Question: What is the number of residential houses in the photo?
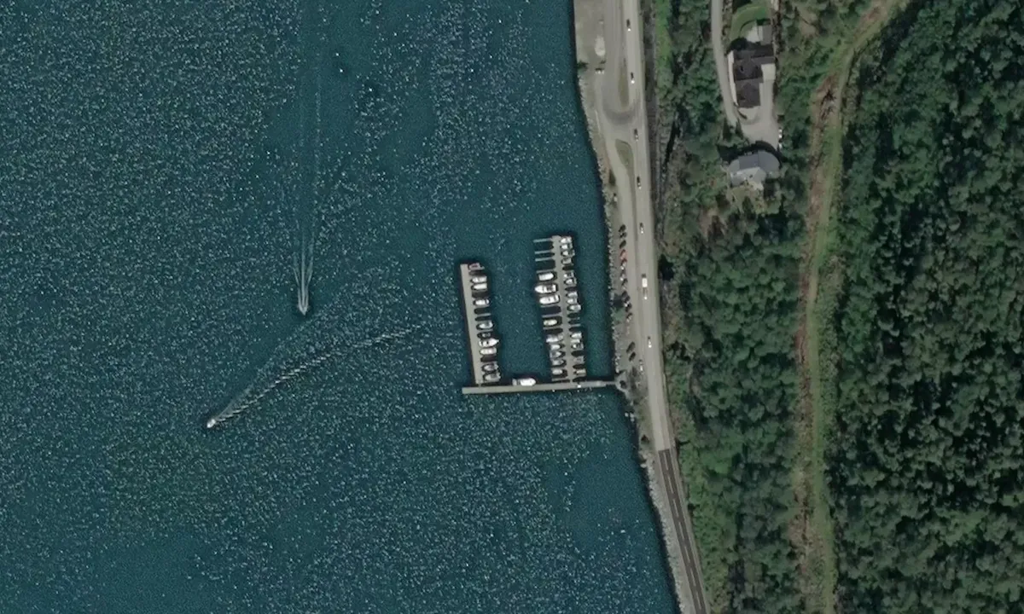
2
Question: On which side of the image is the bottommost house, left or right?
right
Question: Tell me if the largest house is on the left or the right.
right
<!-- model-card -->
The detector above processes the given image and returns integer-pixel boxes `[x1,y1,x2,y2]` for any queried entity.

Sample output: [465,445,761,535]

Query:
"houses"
[735,42,776,107]
[729,149,780,186]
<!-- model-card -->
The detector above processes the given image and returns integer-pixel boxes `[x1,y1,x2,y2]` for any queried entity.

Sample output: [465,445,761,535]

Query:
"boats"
[480,347,497,355]
[551,369,563,375]
[484,363,499,371]
[538,273,554,281]
[570,304,582,311]
[485,373,501,381]
[550,359,564,366]
[564,272,576,278]
[562,250,576,256]
[513,378,535,385]
[549,344,561,350]
[473,277,488,283]
[207,417,216,425]
[535,284,556,293]
[567,298,578,304]
[475,299,490,305]
[546,334,563,342]
[542,319,557,326]
[469,262,482,270]
[550,351,562,358]
[572,343,584,349]
[474,283,488,290]
[560,237,573,243]
[573,357,585,363]
[572,333,583,339]
[478,339,500,348]
[540,295,560,304]
[566,278,576,284]
[576,369,587,375]
[479,321,494,329]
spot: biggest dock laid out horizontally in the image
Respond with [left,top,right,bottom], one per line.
[462,380,606,394]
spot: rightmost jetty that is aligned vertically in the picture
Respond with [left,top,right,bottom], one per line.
[535,236,586,380]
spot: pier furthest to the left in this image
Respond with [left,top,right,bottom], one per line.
[461,264,500,386]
